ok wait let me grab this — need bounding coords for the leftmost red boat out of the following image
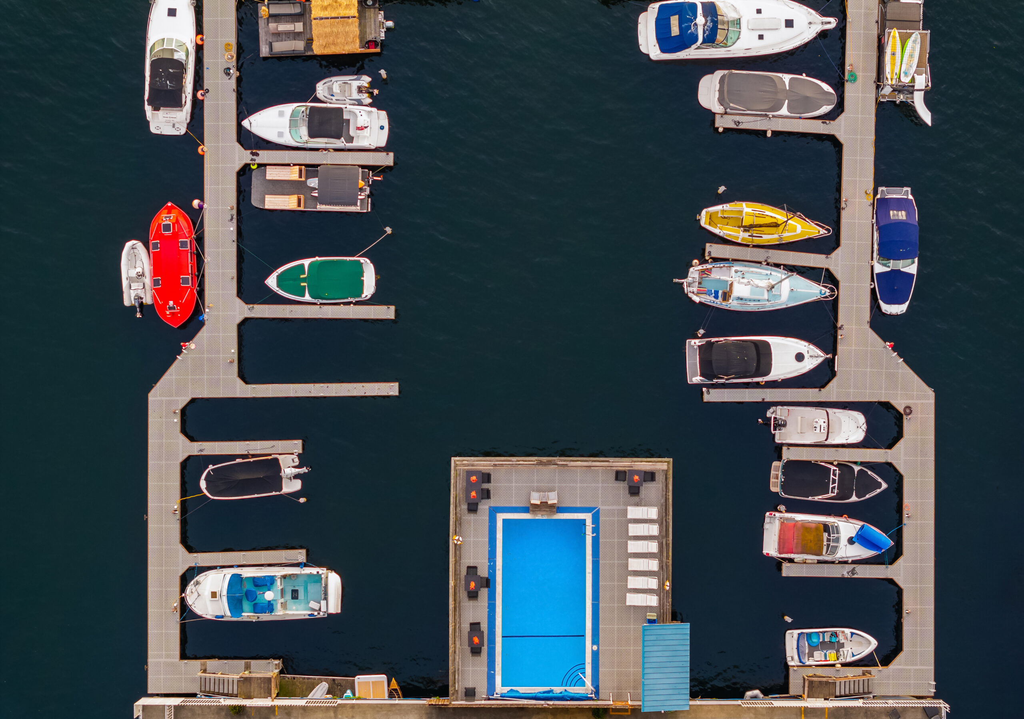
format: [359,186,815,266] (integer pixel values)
[149,201,199,328]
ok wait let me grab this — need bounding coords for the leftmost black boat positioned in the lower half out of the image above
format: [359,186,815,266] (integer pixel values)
[200,454,311,499]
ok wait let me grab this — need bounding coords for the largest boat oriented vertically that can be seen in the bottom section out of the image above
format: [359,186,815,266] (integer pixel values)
[325,571,342,613]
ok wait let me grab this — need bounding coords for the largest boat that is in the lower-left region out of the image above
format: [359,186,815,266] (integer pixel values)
[184,565,328,620]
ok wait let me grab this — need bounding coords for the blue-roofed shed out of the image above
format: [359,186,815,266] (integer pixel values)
[640,623,690,712]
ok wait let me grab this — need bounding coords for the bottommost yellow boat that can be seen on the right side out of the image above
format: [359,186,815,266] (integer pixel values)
[693,197,832,245]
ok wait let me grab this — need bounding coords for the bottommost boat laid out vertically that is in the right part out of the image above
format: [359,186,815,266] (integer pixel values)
[871,187,919,315]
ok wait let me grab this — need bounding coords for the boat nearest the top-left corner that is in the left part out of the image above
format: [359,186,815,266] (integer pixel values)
[144,0,200,135]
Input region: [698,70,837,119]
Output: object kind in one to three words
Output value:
boat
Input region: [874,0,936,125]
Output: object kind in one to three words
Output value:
vessel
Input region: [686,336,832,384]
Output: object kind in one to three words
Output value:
boat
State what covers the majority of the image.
water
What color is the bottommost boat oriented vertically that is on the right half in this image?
blue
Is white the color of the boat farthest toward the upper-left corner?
Yes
